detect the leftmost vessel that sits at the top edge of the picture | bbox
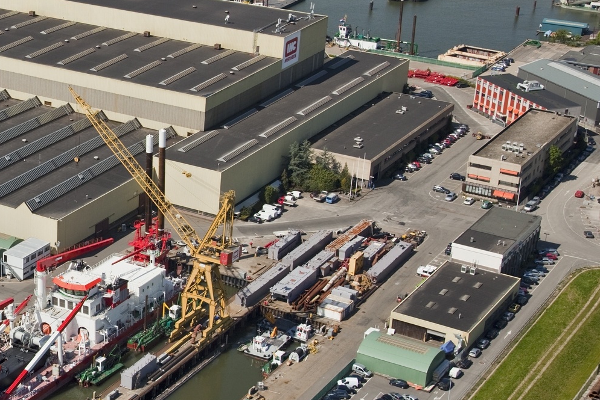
[331,0,418,54]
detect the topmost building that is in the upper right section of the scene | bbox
[533,15,591,39]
